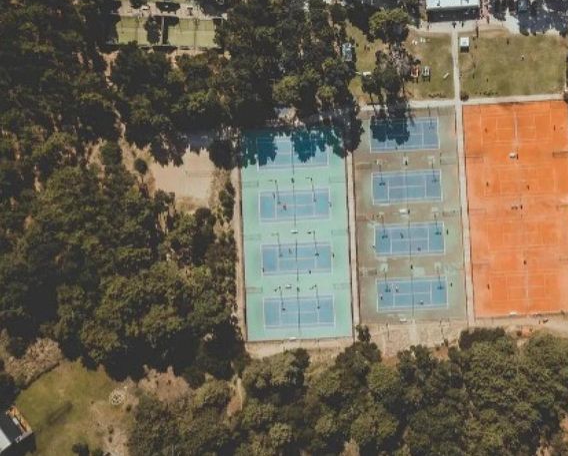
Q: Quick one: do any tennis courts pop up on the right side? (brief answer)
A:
Yes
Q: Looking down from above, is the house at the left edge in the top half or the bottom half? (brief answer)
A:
bottom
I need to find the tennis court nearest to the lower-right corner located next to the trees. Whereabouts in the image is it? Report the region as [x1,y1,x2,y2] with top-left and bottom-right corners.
[472,258,568,319]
